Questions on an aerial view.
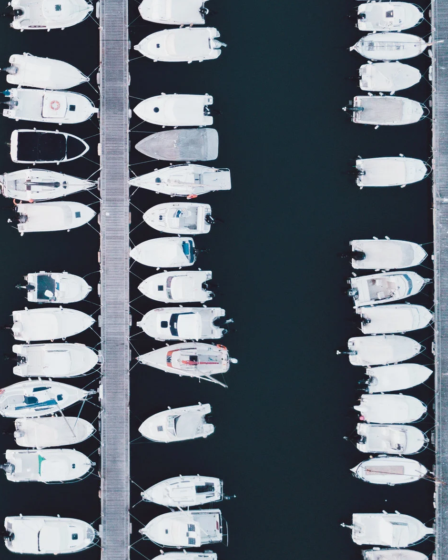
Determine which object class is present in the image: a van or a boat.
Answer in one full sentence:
There is a boat in the scene.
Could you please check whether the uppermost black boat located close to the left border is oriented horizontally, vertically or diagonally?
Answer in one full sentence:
The uppermost black boat located close to the left border is laid out horizontally.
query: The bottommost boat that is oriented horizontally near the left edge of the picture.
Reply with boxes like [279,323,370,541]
[0,515,99,555]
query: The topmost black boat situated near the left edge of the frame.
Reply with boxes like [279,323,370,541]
[8,130,90,164]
